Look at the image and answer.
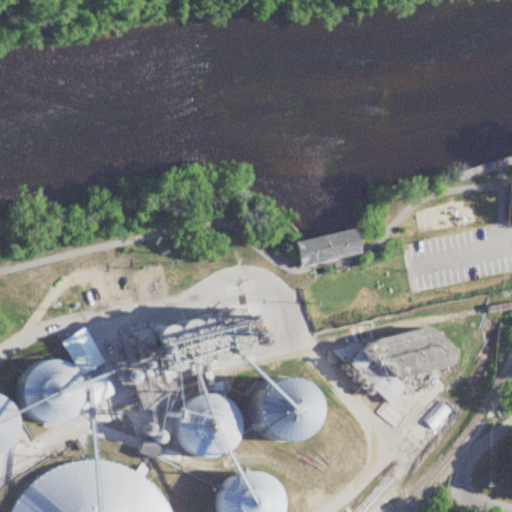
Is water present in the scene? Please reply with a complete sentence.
Yes, the picture does contain water.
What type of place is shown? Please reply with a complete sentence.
What you see here is an industrial area.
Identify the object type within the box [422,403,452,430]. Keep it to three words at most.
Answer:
shed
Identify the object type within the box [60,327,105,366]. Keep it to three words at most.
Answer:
shed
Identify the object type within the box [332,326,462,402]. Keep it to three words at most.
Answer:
building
